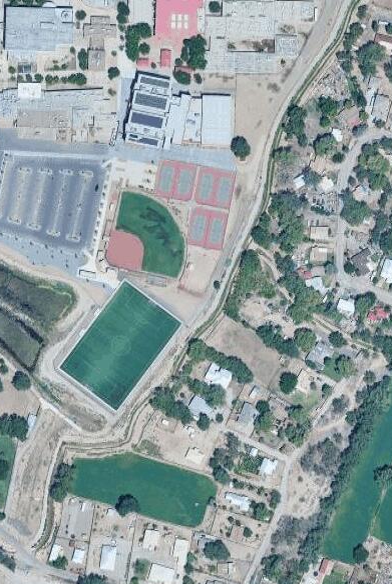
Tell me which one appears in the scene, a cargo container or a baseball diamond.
baseball diamond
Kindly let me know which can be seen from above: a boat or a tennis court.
tennis court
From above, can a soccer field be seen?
Yes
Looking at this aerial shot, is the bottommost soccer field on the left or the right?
left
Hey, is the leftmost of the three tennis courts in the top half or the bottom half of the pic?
top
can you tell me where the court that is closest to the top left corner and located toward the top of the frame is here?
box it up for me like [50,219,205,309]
[155,160,197,200]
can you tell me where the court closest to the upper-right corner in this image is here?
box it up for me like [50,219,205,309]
[196,167,236,209]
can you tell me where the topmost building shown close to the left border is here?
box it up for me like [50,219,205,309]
[5,5,73,50]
